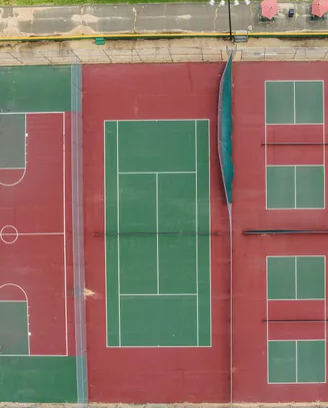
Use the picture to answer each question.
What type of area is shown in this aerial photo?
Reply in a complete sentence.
The picture captures a sports ground.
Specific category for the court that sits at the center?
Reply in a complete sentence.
The court that sits at the center is a tennis court.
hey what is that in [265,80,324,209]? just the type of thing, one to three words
sports court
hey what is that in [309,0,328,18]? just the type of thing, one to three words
umbrella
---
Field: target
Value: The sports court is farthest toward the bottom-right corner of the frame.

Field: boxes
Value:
[266,256,326,384]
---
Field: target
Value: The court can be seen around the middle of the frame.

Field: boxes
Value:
[81,62,232,403]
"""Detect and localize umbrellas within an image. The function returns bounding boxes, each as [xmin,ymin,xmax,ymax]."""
[309,0,328,18]
[259,0,279,20]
